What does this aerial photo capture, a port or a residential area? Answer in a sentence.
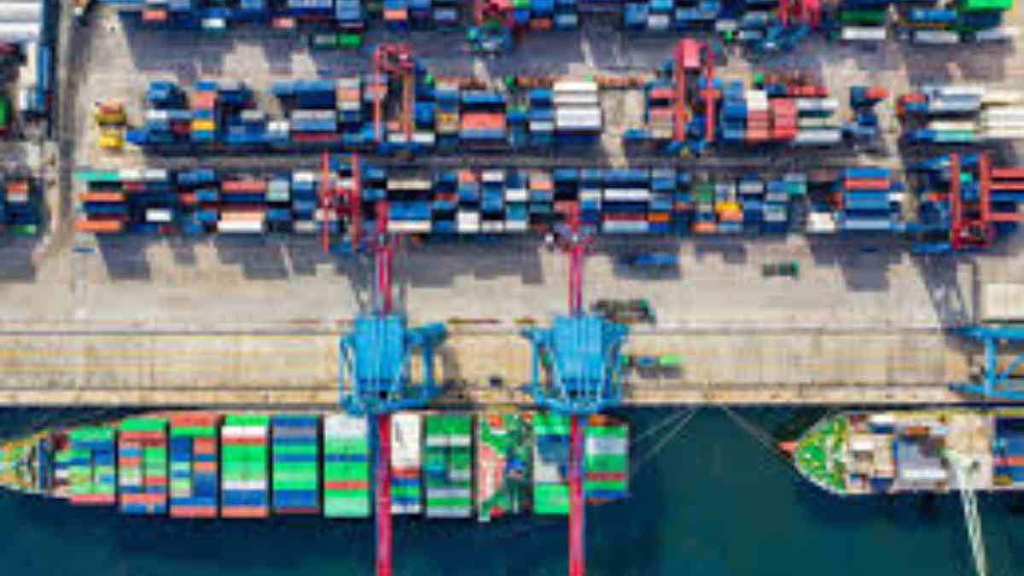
This image shows a port.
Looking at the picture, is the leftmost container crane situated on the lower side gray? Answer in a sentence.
No, the leftmost container crane situated on the lower side is blue.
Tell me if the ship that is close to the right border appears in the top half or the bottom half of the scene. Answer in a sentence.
Seen from above, the ship that is close to the right border lies in the bottom half of the view.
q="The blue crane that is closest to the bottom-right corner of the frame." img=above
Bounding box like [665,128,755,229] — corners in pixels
[954,329,1024,404]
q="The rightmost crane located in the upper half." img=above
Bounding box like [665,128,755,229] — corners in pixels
[914,151,991,255]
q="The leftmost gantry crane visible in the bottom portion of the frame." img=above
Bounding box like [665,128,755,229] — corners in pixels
[341,203,448,576]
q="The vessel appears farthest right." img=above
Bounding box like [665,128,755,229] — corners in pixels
[779,407,1024,576]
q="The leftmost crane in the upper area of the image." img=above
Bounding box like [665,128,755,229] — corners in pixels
[320,152,377,256]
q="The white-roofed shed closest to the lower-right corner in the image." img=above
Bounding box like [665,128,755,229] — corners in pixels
[977,283,1024,320]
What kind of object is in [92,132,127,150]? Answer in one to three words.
work vehicle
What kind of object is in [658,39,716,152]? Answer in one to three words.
container crane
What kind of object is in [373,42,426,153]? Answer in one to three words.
container crane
